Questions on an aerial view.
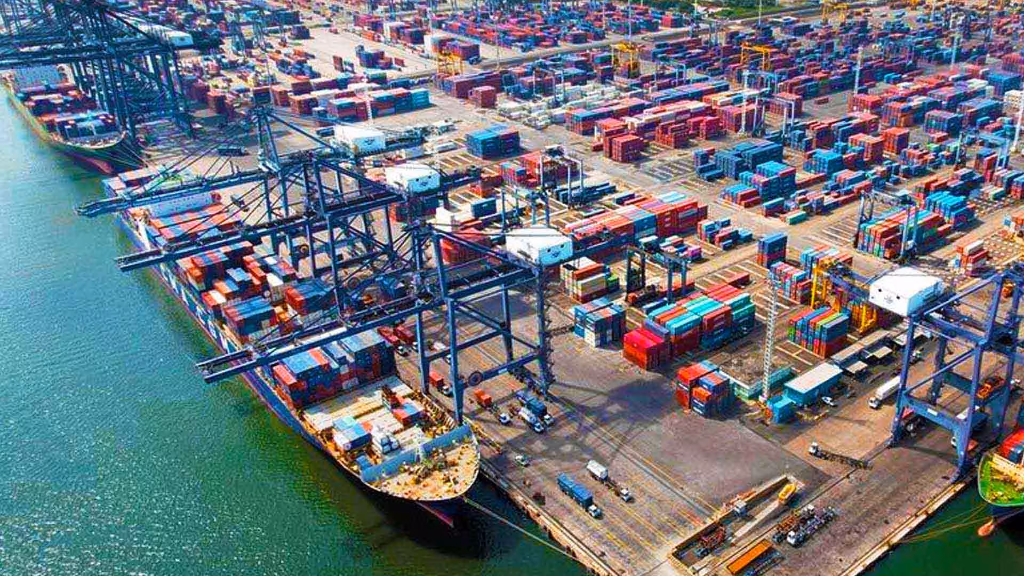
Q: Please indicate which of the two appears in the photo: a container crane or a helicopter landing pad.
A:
container crane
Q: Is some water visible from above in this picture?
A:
Yes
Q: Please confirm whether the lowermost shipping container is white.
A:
No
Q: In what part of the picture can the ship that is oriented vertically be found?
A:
bottom right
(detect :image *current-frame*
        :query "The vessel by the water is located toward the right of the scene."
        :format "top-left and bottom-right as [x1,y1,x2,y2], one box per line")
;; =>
[972,415,1024,545]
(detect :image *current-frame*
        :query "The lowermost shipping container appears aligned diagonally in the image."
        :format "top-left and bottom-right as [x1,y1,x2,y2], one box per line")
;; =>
[726,535,782,576]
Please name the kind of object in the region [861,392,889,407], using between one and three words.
vehicle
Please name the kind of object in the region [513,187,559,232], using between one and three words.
container crane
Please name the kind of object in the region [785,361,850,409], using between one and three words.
building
